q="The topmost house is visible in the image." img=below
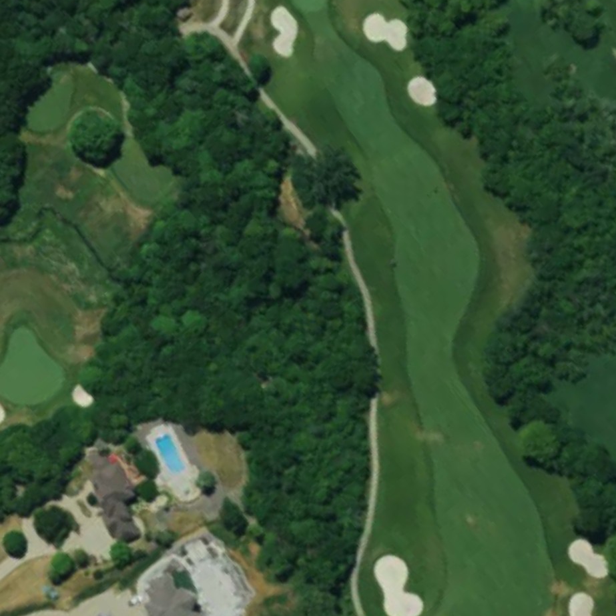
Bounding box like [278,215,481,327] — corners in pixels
[87,448,144,545]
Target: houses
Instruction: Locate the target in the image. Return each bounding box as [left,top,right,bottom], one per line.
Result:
[87,448,144,545]
[138,571,205,616]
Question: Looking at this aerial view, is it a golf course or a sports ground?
golf course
